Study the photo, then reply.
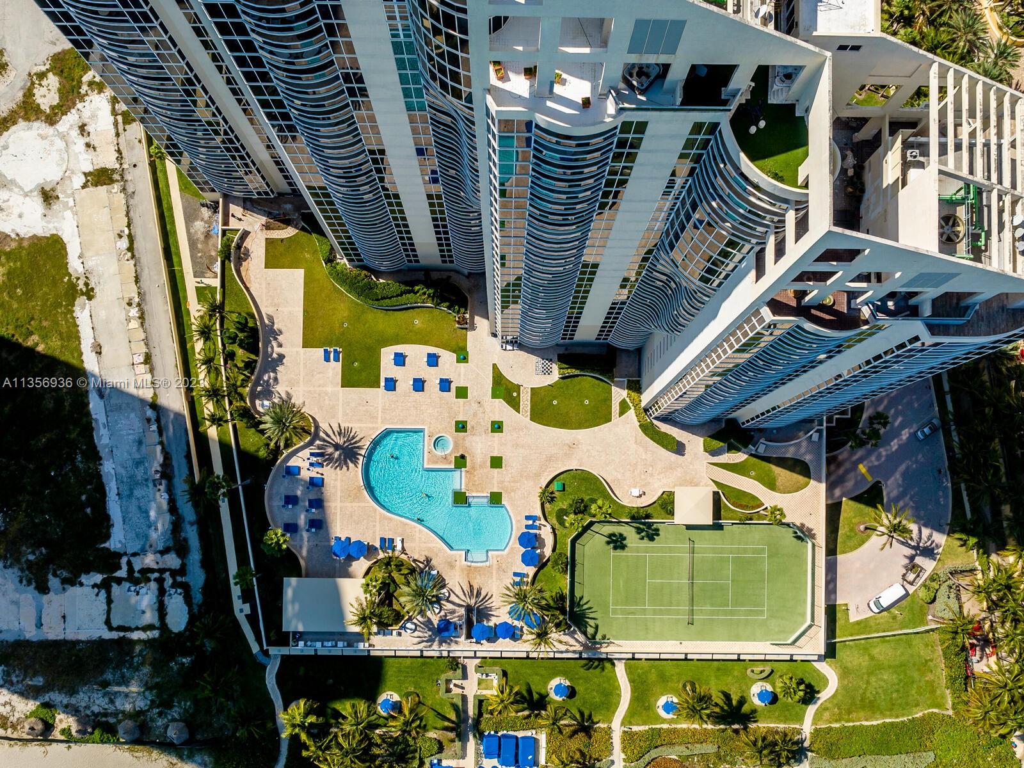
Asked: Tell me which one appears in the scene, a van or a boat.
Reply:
van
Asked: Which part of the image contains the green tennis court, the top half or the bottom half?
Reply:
bottom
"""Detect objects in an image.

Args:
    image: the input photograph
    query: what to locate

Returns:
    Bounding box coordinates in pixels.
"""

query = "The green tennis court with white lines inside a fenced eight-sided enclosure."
[570,522,811,642]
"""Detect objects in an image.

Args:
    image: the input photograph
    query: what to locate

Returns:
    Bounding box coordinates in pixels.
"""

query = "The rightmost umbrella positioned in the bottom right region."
[756,688,771,703]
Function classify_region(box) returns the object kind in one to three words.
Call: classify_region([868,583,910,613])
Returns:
van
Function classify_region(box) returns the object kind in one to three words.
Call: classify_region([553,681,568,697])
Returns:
umbrella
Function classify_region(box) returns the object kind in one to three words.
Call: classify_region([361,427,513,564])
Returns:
swimming pool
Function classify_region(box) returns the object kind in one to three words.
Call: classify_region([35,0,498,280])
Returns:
building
